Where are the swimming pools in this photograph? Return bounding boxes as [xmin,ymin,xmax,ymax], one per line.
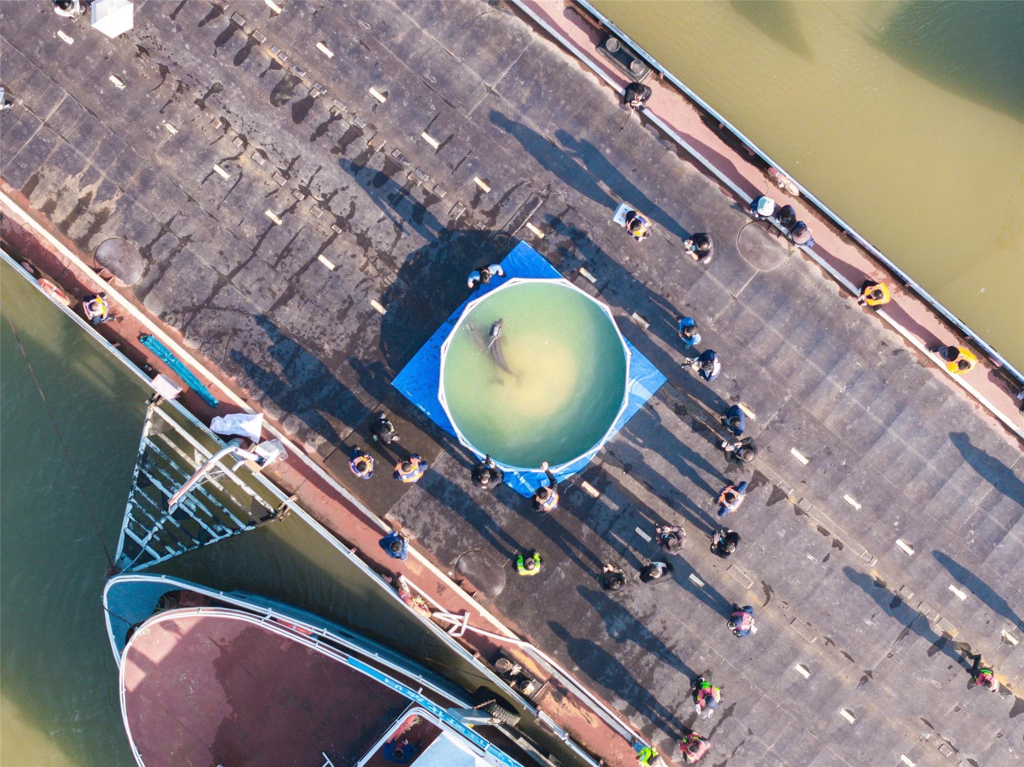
[437,279,630,472]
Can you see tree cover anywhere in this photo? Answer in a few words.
No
